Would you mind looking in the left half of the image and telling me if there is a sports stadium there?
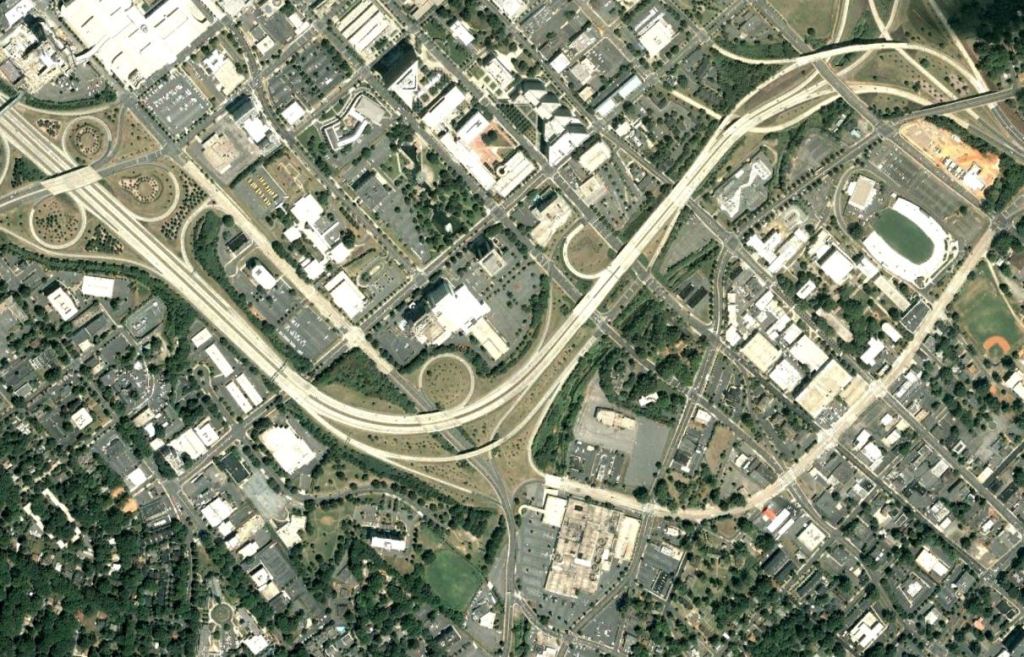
No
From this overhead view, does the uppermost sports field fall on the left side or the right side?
right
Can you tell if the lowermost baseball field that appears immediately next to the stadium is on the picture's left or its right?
right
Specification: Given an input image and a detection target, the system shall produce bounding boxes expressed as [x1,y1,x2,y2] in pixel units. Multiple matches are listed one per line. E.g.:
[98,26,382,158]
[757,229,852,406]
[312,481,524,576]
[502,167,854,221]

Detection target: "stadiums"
[863,198,958,288]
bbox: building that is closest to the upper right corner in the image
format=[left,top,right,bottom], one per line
[964,162,985,190]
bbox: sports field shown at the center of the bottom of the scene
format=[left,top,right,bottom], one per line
[424,547,485,610]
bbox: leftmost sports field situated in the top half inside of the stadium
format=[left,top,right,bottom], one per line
[872,208,933,263]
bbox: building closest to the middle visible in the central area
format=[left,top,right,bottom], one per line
[472,317,509,360]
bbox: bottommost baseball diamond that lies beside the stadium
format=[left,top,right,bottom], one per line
[958,268,1024,362]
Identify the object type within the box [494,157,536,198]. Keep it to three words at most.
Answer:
building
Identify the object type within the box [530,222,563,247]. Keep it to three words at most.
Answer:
building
